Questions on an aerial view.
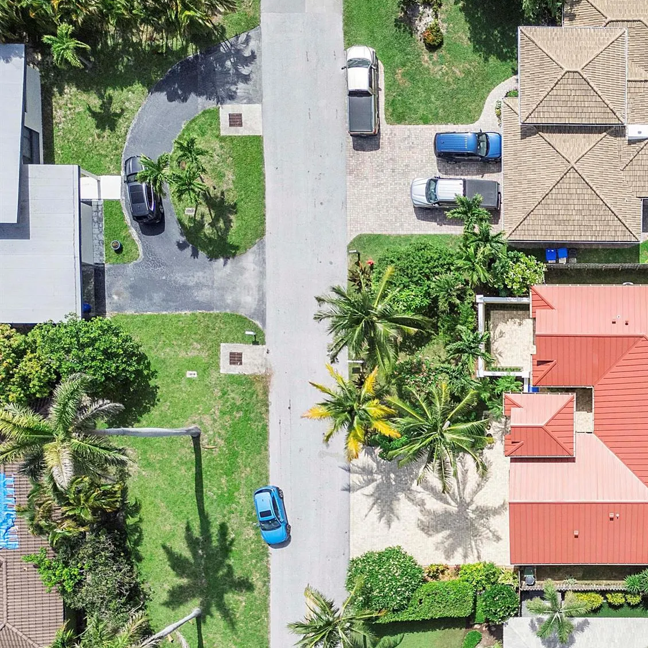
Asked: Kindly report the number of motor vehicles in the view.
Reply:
5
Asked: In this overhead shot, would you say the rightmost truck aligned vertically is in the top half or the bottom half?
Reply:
top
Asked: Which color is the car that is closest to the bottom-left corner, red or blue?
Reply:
blue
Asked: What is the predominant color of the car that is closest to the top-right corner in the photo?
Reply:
blue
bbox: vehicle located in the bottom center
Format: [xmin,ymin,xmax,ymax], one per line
[252,482,294,547]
